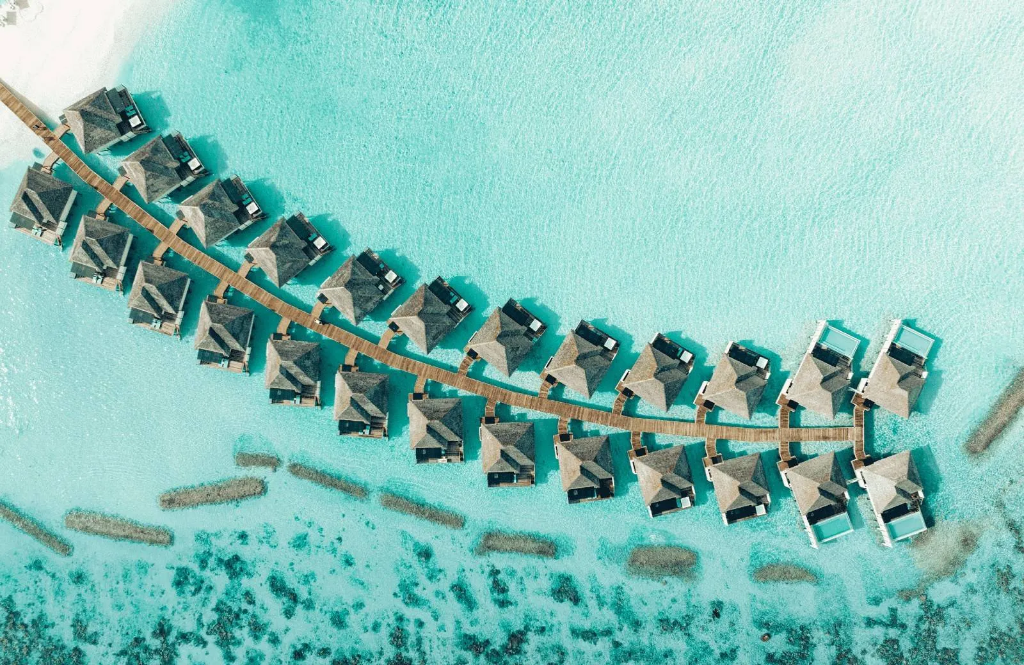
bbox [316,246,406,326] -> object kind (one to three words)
house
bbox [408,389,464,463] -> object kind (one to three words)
house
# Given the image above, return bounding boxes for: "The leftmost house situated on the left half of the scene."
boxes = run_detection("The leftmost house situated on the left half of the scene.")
[7,162,89,251]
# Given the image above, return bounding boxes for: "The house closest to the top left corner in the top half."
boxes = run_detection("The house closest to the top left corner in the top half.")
[62,83,159,158]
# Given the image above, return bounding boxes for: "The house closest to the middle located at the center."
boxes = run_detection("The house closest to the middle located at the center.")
[463,296,548,377]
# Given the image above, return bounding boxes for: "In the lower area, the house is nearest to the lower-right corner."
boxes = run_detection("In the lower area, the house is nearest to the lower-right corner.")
[845,451,925,548]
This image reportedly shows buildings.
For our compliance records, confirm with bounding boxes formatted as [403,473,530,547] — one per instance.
[772,320,851,420]
[772,451,850,548]
[615,331,696,412]
[554,430,615,505]
[385,274,474,354]
[178,174,272,248]
[845,451,925,548]
[333,361,391,437]
[120,130,216,205]
[127,254,201,338]
[626,443,694,519]
[844,319,927,419]
[479,413,535,488]
[316,246,406,326]
[245,209,338,288]
[193,292,262,374]
[463,296,548,377]
[62,83,159,158]
[692,340,769,420]
[67,209,144,296]
[408,389,464,463]
[265,331,325,407]
[700,452,771,527]
[7,162,89,251]
[539,318,620,399]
